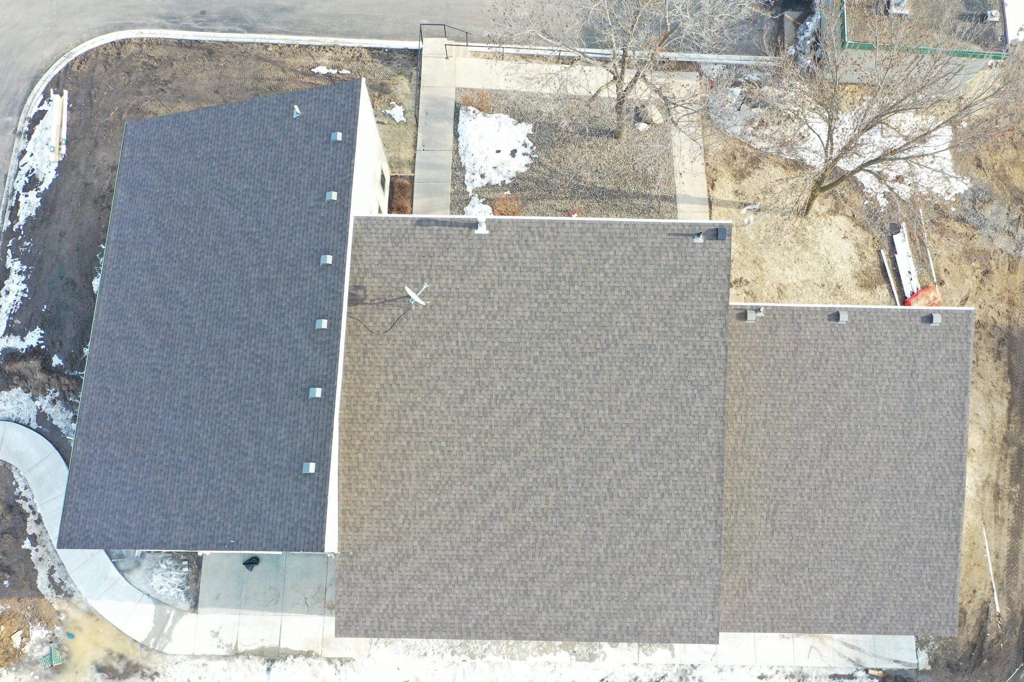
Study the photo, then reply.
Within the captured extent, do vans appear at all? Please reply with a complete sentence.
No, no van can be seen from above.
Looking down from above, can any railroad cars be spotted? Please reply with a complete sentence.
No, there's no railroad car here.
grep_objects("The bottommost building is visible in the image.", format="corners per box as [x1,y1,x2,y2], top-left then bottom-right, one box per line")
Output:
[55,77,977,645]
